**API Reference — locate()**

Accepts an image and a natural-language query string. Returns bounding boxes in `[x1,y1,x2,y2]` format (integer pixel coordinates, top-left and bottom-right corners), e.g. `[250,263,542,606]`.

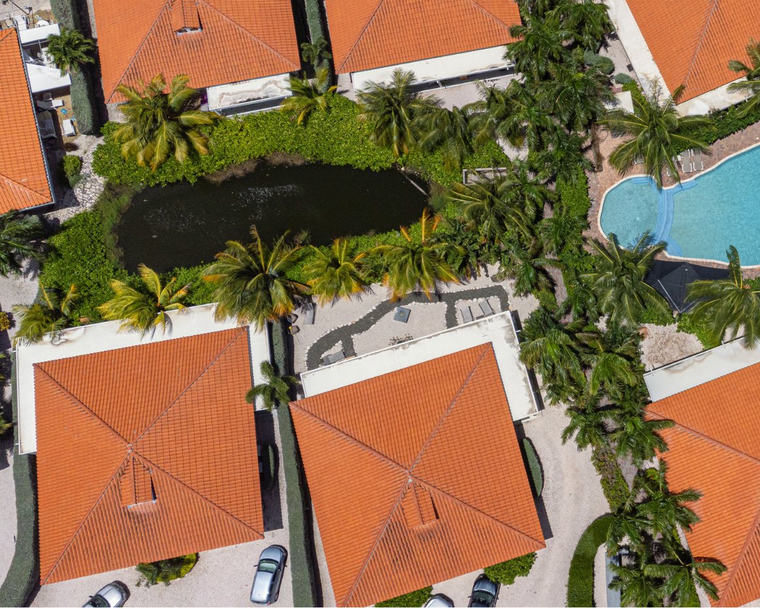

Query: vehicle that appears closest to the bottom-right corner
[465,572,496,608]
